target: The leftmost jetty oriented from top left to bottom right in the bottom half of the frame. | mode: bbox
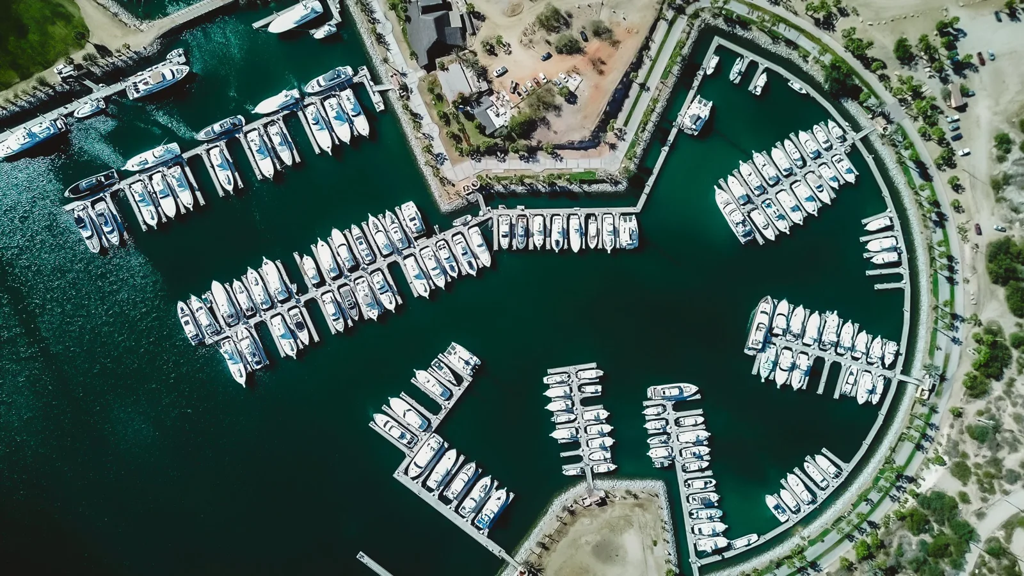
[356,550,395,576]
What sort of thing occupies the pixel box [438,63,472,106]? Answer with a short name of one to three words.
house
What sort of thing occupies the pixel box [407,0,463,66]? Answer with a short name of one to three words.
house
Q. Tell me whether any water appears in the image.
Yes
